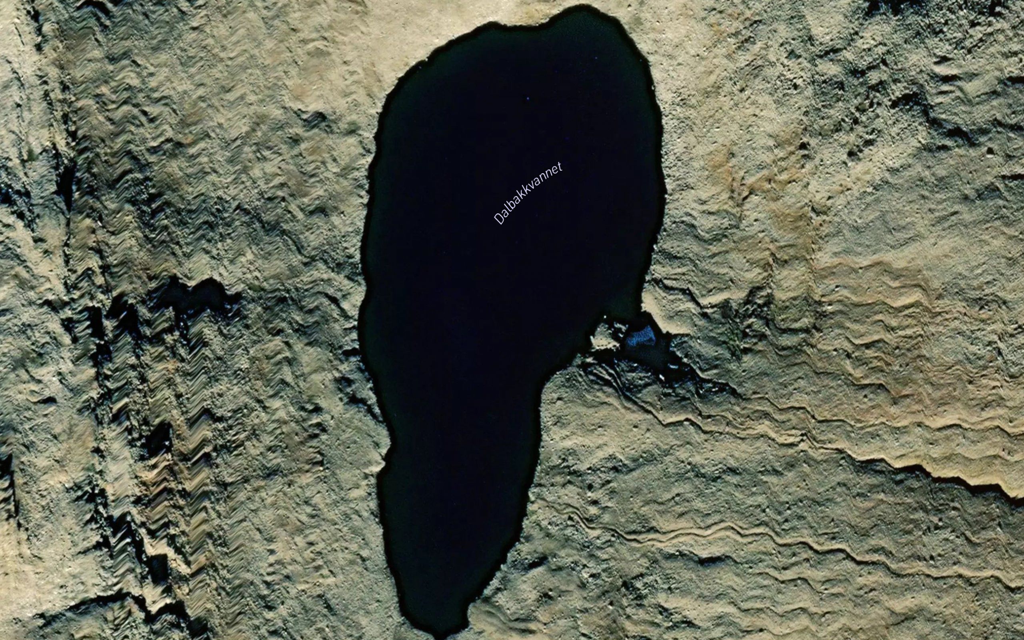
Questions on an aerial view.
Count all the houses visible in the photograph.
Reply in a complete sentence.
Not a single house can be seen.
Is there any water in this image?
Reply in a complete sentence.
Yes, water shows up in the scene.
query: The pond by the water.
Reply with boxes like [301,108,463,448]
[587,307,736,395]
